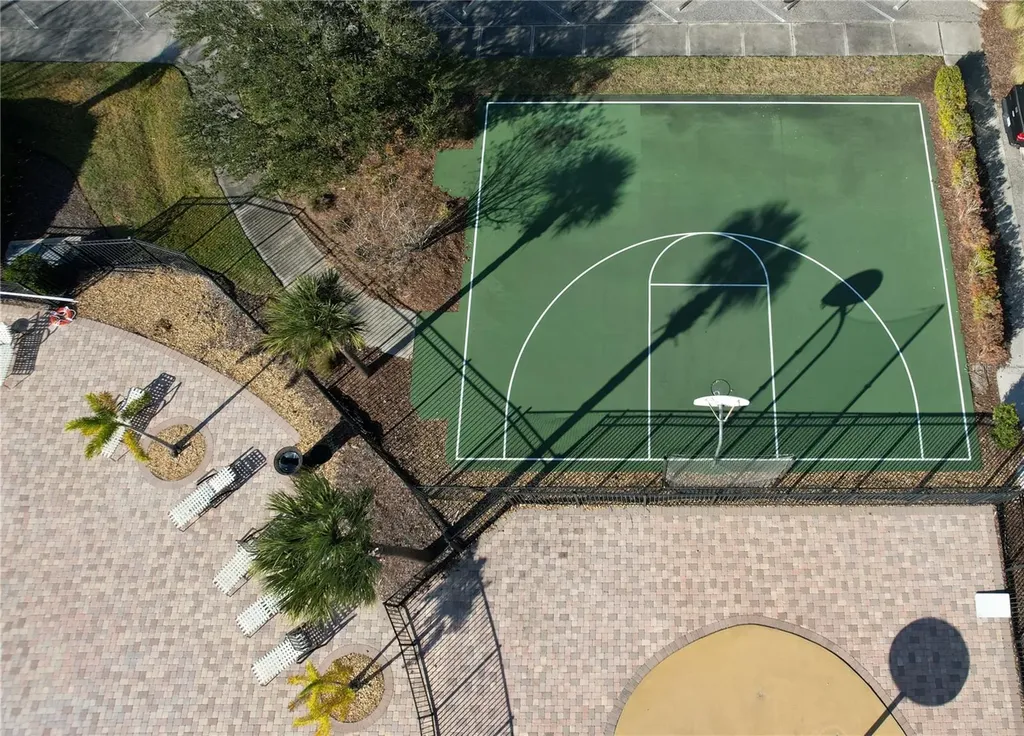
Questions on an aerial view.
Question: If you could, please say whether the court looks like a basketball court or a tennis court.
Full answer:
It looks like the court is a basketball court.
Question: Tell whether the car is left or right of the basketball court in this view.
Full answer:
Looking at the photo, the car lies to the right of the basketball court.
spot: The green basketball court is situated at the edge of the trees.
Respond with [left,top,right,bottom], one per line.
[411,95,981,471]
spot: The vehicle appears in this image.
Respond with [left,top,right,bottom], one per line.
[998,88,1024,152]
